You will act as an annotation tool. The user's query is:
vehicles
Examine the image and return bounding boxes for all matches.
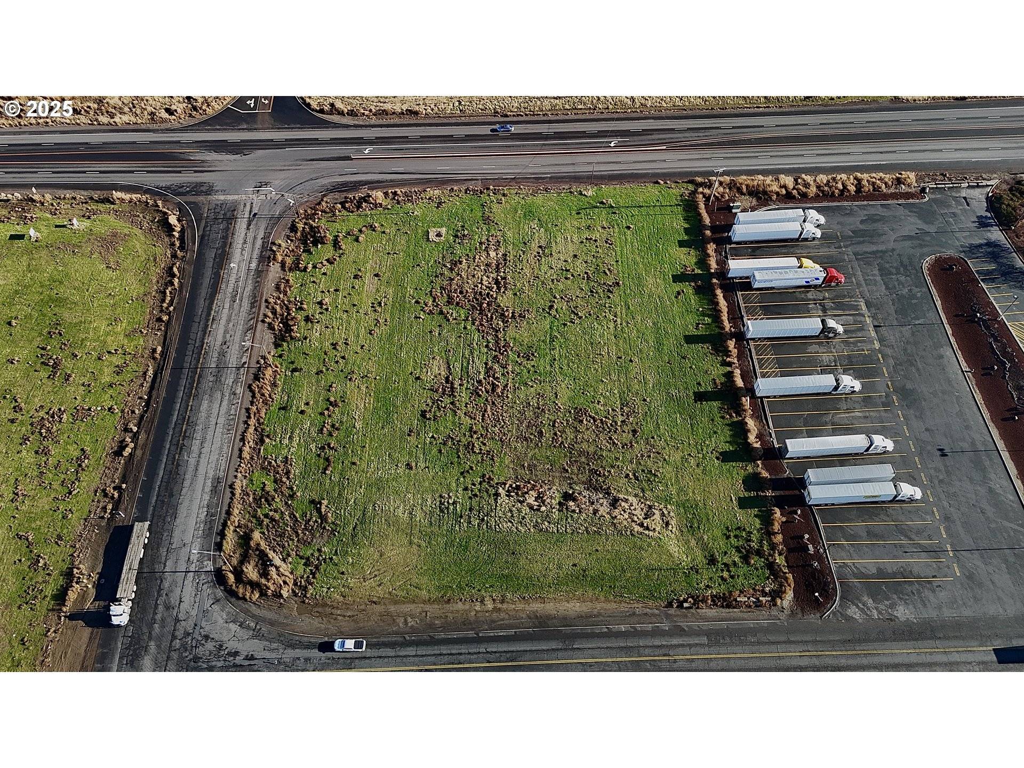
[496,124,513,132]
[109,521,151,629]
[730,222,824,245]
[802,482,921,506]
[780,437,895,461]
[754,375,862,399]
[734,211,826,229]
[750,269,848,292]
[745,317,847,341]
[332,639,366,654]
[725,257,821,280]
